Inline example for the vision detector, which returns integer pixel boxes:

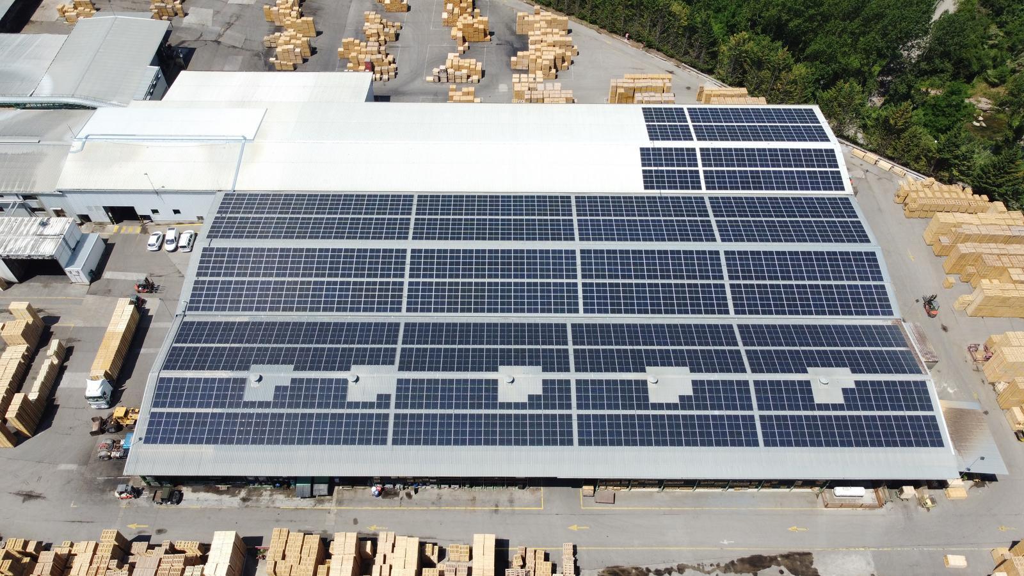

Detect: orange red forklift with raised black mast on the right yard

[923,292,947,318]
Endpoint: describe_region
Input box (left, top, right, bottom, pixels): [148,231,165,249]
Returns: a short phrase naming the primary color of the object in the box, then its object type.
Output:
white car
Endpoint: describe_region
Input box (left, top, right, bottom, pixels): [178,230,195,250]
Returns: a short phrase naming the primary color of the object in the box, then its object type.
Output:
white car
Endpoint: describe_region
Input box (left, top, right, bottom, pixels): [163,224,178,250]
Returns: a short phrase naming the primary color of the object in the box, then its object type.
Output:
white vehicle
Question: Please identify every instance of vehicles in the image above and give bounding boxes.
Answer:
[178,230,195,250]
[94,432,135,459]
[147,487,184,508]
[109,482,145,500]
[163,224,178,250]
[131,275,160,293]
[92,409,138,435]
[148,231,165,249]
[78,299,142,407]
[136,290,152,307]
[923,292,947,318]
